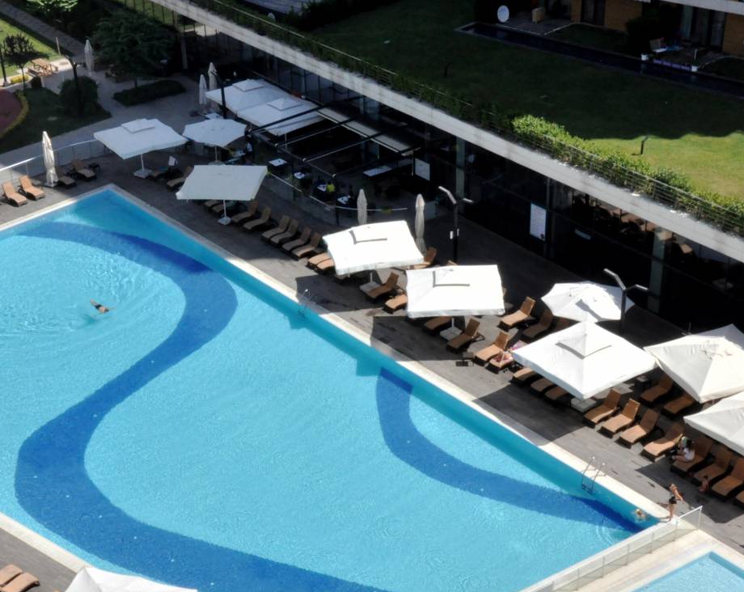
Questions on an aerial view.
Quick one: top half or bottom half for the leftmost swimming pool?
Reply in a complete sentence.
It is in the bottom half that the leftmost swimming pool appears.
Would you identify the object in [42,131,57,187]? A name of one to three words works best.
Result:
umbrella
